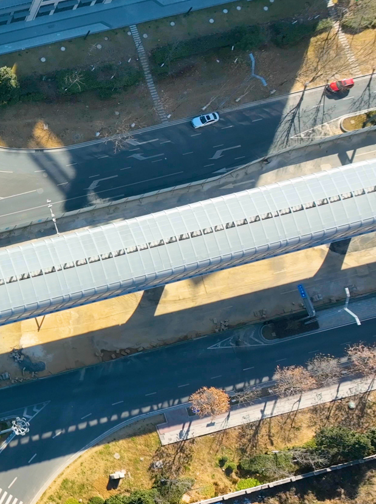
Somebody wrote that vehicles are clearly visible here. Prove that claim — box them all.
[191,113,219,129]
[327,80,353,96]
